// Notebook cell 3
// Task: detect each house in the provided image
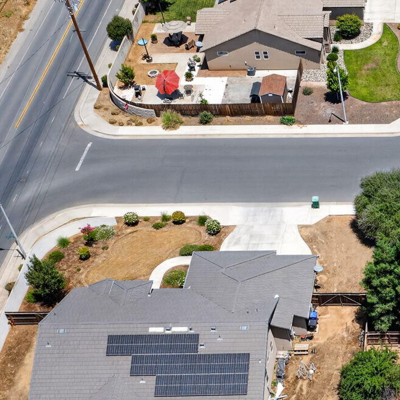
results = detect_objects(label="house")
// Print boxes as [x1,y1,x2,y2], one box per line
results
[195,0,367,70]
[26,250,319,400]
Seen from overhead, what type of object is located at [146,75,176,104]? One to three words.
umbrella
